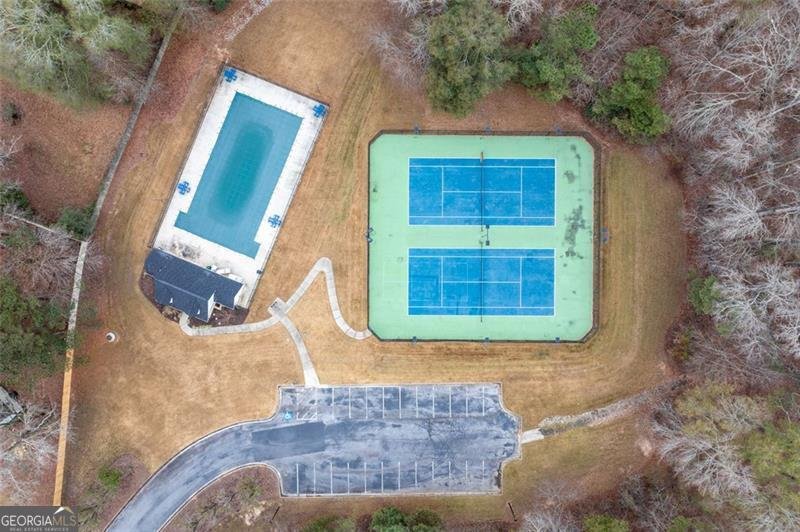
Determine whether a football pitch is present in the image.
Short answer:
No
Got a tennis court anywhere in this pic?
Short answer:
Yes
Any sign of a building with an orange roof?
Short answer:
No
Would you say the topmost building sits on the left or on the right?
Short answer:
left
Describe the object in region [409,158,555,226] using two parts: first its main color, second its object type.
blue tennis court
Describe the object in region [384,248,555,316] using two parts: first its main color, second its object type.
blue tennis court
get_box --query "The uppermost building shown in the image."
[145,249,245,322]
